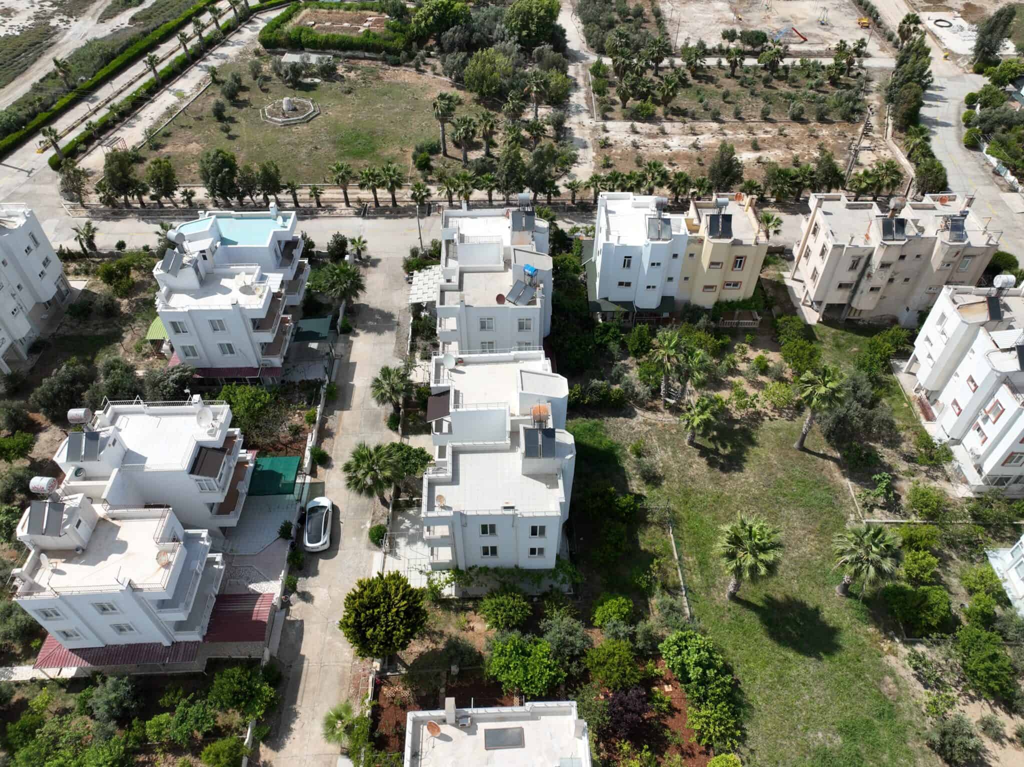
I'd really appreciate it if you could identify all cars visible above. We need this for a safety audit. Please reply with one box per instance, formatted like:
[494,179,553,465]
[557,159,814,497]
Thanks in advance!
[303,497,335,555]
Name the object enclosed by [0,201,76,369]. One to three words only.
house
